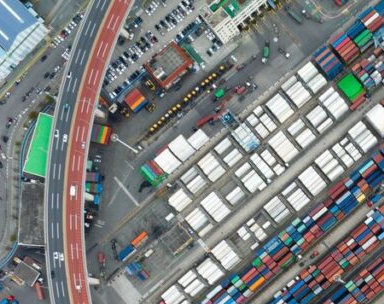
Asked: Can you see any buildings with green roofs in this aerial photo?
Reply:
Yes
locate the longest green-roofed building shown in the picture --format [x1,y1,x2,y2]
[23,113,57,178]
